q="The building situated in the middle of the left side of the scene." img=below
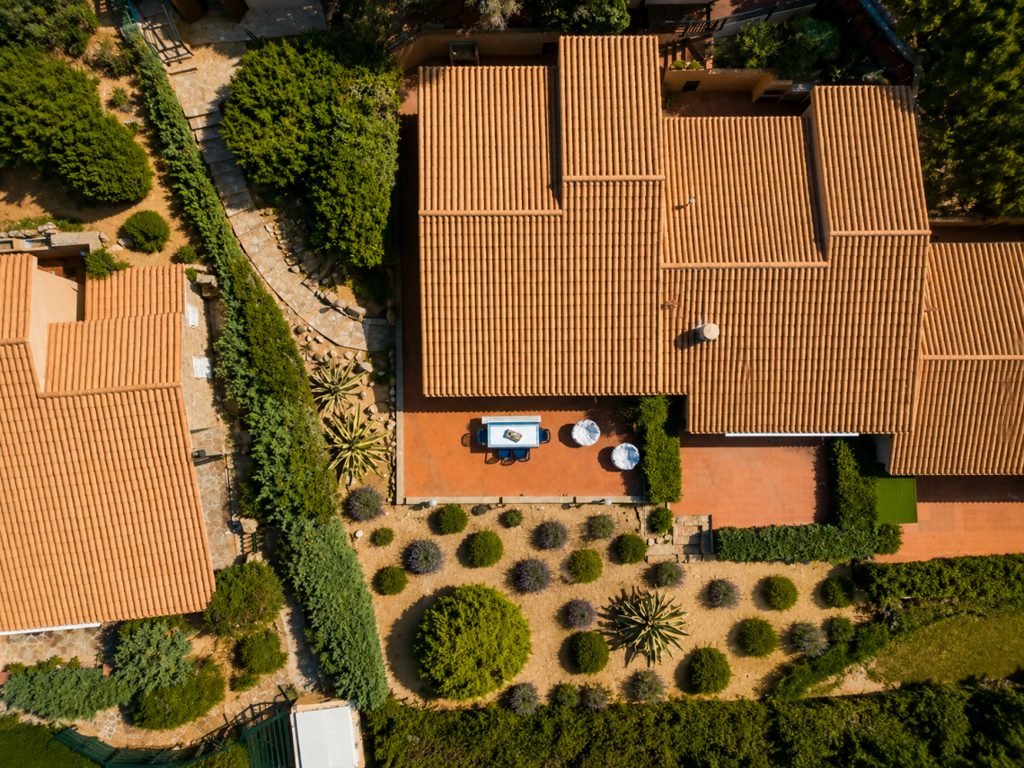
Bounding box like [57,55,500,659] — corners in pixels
[0,257,234,628]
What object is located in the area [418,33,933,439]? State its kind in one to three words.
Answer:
house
